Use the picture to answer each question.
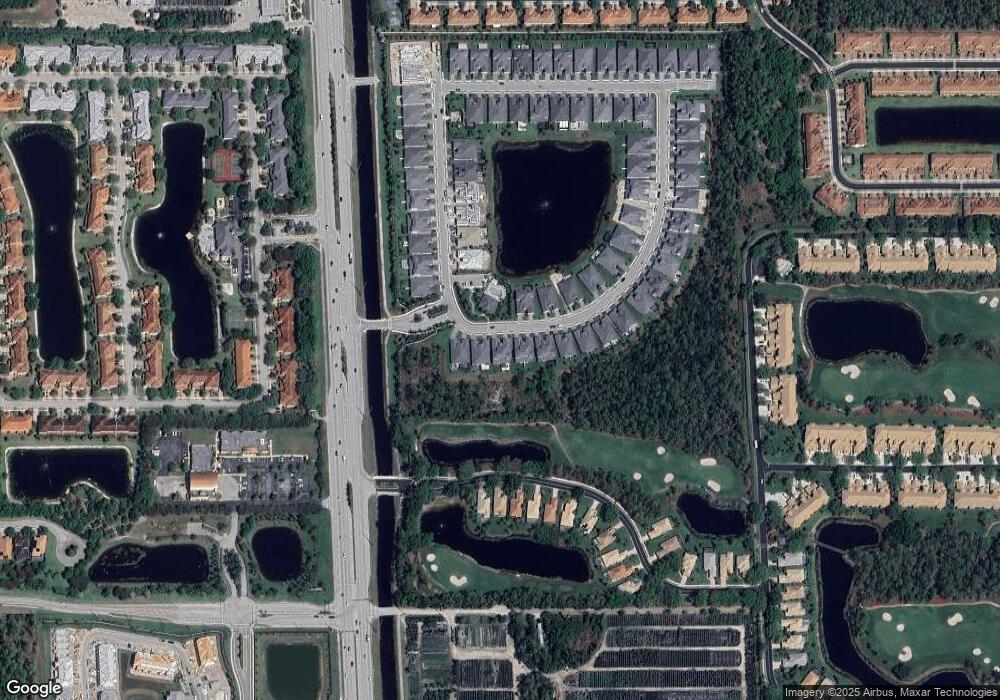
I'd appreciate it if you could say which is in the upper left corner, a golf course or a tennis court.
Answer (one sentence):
Looking in the upper left corner, you will find a tennis court.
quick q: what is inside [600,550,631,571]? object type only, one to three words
house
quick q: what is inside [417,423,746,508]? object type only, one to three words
golf course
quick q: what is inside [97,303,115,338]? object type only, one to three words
building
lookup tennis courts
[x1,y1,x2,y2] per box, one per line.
[213,148,243,181]
[223,306,252,336]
